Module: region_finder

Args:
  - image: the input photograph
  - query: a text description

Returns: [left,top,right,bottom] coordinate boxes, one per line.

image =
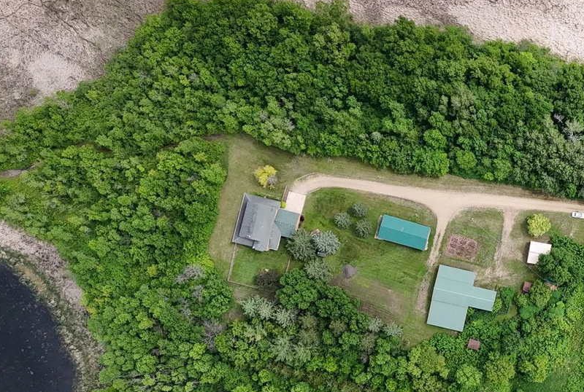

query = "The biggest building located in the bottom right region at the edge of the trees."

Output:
[428,264,498,332]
